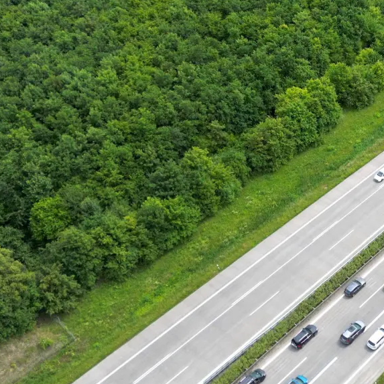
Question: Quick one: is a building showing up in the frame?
No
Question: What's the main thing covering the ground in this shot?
trees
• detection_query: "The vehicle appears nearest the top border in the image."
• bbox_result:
[370,167,384,183]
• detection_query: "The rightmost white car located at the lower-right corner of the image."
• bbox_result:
[365,326,384,352]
